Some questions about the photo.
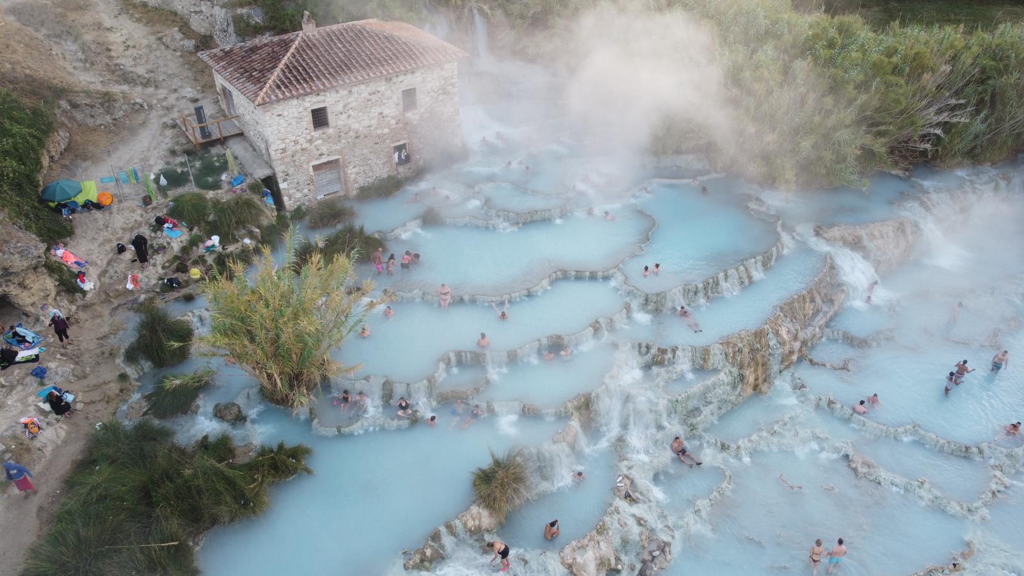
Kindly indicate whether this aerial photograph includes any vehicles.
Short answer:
No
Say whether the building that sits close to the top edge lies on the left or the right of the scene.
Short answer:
left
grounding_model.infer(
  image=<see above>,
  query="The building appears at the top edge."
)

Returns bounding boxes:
[185,16,470,211]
